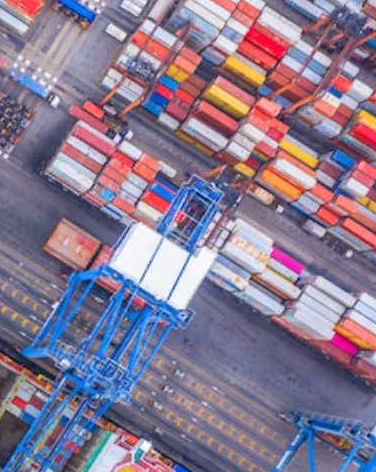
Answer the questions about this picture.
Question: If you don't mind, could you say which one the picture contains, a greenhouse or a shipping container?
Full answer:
Of the two, only a shipping container appears.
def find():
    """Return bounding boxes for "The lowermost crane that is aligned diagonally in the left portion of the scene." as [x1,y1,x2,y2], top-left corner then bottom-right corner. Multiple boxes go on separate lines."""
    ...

[0,160,231,472]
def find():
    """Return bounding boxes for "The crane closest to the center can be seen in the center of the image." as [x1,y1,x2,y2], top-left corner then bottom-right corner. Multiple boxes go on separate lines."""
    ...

[177,159,261,251]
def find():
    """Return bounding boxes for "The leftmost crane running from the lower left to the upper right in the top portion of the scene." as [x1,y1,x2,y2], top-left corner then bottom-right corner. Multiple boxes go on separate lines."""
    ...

[95,10,194,122]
